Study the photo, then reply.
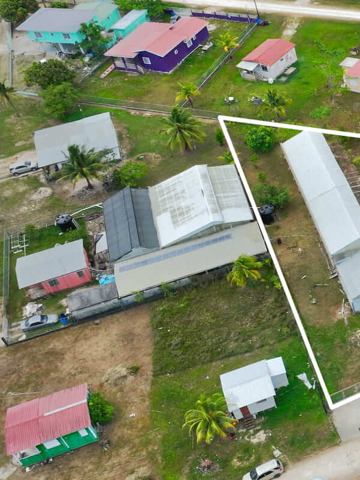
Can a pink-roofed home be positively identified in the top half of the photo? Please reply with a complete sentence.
Yes, there is a pink-roofed home in the top half of the photo.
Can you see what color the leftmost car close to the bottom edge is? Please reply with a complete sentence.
The leftmost car close to the bottom edge looks white in the image.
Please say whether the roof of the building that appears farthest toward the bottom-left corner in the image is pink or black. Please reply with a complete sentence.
From above, the roof of the building that appears farthest toward the bottom-left corner appears pink.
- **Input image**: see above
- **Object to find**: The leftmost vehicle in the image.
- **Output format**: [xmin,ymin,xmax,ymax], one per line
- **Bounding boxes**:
[7,161,39,177]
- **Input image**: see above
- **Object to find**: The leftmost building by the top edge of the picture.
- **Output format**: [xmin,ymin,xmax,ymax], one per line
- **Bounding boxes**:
[16,3,101,56]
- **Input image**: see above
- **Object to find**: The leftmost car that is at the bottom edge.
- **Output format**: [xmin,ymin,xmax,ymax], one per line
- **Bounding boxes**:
[241,458,285,480]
